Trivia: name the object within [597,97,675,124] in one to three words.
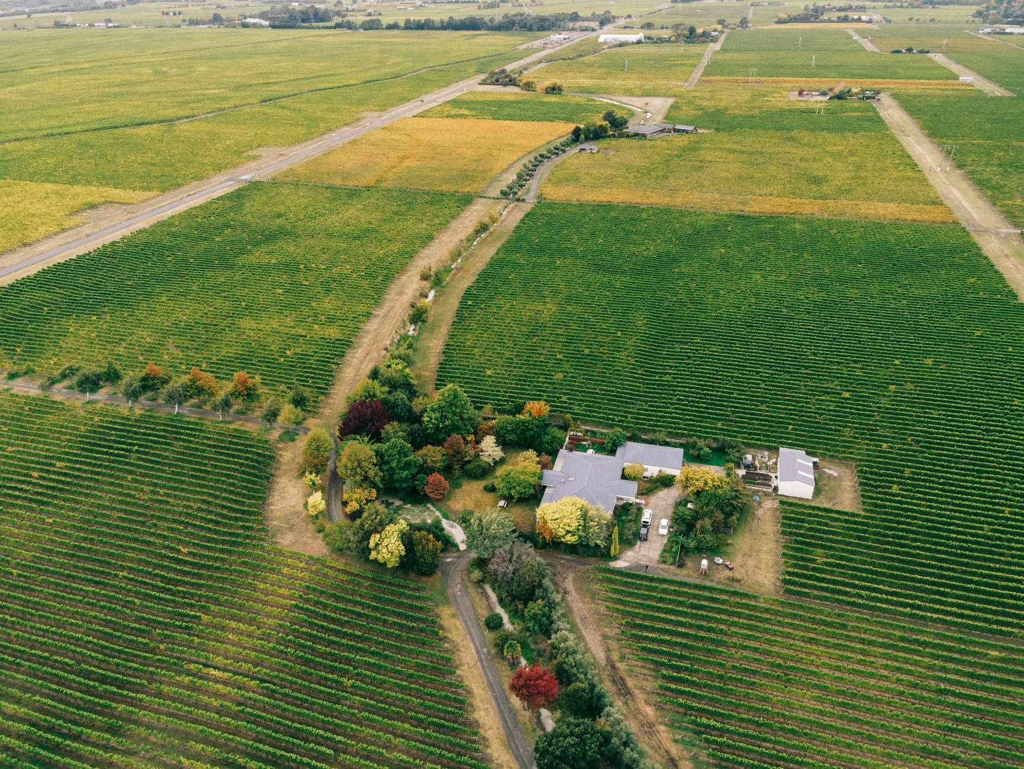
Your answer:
building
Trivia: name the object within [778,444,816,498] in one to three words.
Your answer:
shed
